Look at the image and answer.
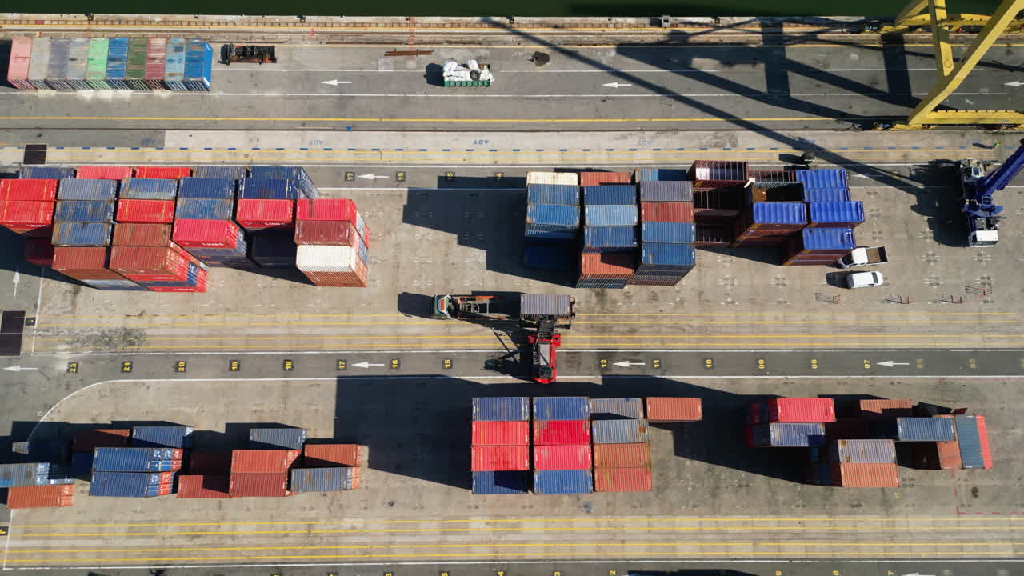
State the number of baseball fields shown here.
0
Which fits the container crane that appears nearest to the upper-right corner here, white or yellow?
yellow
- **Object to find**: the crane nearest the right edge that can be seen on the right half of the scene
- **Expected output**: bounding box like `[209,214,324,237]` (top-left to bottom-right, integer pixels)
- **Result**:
[942,138,1024,248]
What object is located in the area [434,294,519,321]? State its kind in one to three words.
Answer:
truck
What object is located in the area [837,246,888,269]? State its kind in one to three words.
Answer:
truck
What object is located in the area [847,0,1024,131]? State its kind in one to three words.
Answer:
container crane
